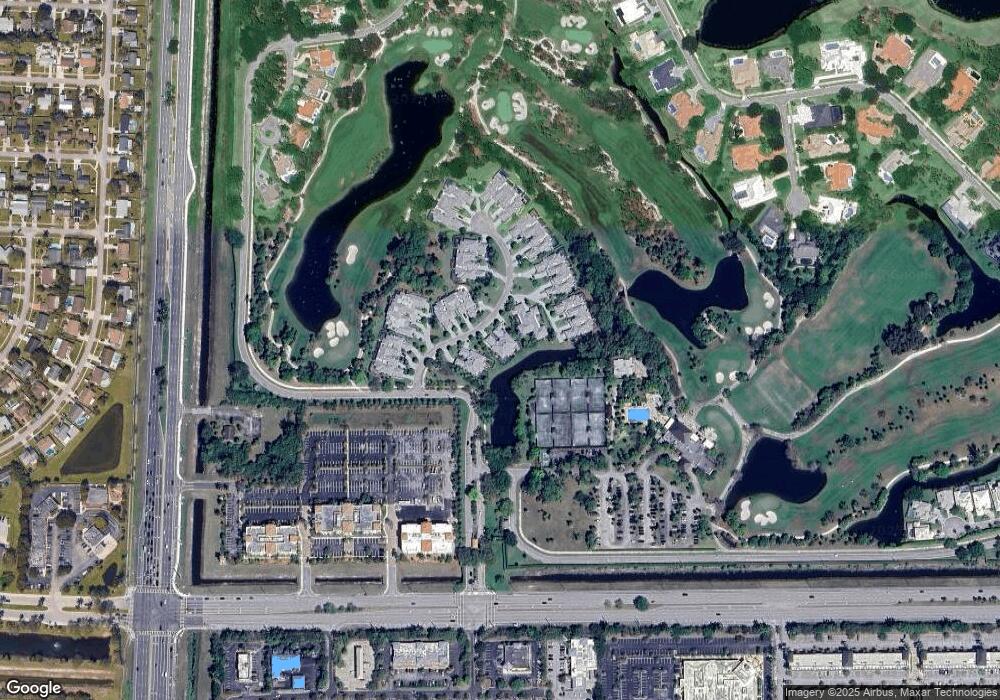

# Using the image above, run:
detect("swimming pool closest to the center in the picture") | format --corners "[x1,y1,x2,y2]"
[628,408,649,422]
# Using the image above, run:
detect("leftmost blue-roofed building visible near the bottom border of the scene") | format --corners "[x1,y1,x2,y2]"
[271,655,300,679]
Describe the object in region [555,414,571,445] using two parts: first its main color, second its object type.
gray tennis court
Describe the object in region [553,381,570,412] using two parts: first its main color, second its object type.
gray tennis court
